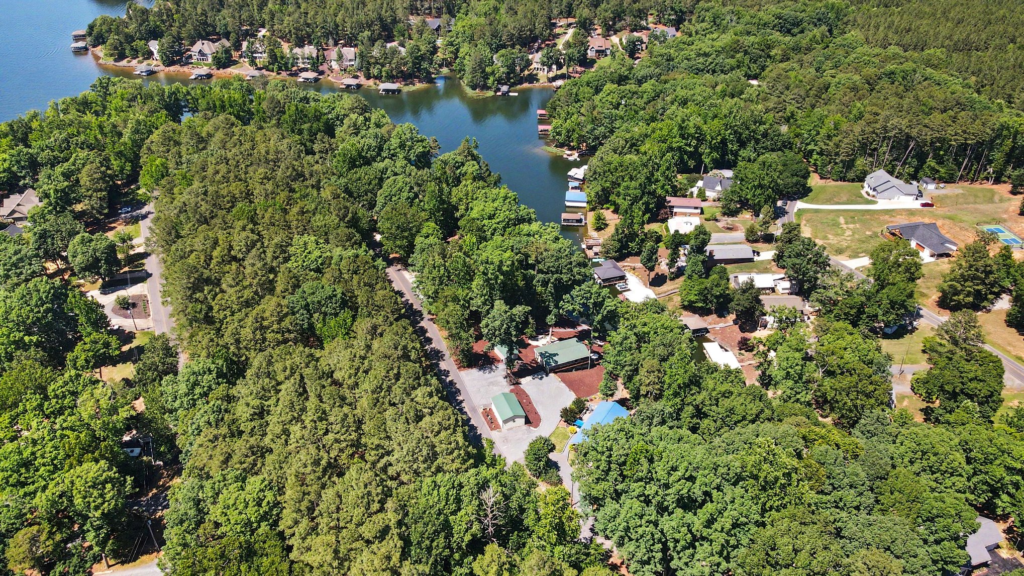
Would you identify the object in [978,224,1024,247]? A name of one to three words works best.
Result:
sports court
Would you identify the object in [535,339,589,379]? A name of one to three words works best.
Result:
house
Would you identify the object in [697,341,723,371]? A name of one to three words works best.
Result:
building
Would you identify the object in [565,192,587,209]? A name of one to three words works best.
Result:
building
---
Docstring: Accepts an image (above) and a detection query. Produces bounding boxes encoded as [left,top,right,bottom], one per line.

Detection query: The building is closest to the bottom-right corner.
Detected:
[945,519,1004,575]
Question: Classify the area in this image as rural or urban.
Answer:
rural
